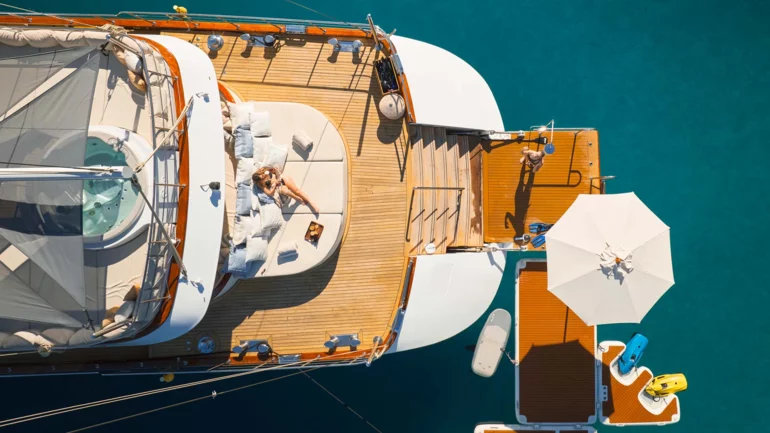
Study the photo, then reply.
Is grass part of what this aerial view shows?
No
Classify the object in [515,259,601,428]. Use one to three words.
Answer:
pier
